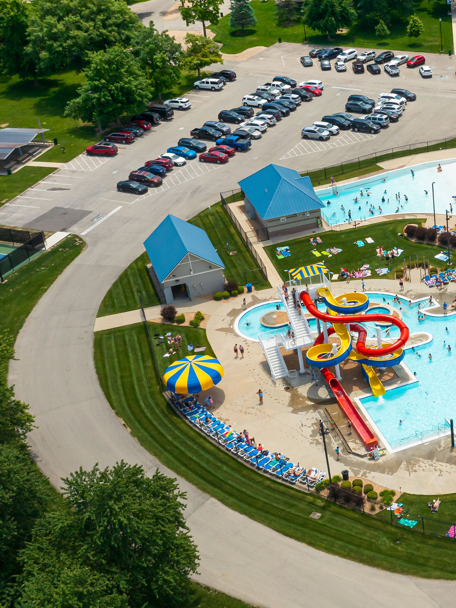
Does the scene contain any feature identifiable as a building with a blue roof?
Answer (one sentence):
Yes, I can see a building with a blue roof in this picture.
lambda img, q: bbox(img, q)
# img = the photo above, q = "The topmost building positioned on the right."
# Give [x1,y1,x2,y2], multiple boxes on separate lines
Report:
[239,163,325,238]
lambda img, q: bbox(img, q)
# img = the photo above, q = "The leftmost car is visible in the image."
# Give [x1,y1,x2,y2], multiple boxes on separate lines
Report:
[85,143,118,157]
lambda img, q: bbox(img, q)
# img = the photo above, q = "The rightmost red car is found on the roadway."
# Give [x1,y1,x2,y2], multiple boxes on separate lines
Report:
[405,54,427,68]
